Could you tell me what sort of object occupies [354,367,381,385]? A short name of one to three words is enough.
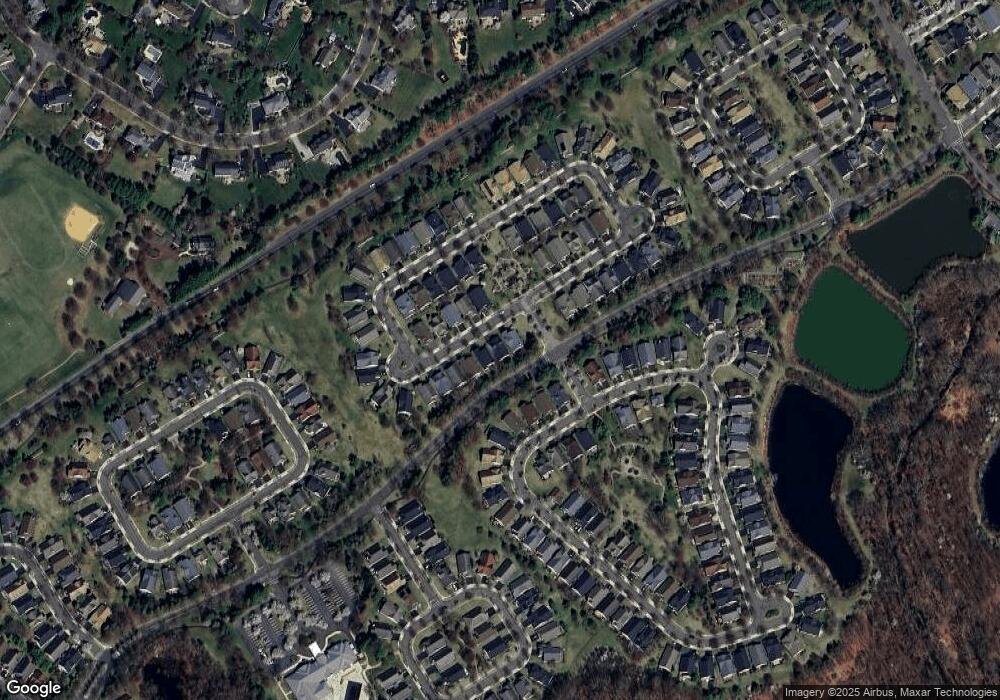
house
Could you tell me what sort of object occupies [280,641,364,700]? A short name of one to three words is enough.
building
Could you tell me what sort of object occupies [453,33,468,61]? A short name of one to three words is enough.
swimming pool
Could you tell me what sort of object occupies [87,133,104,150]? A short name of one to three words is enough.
swimming pool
